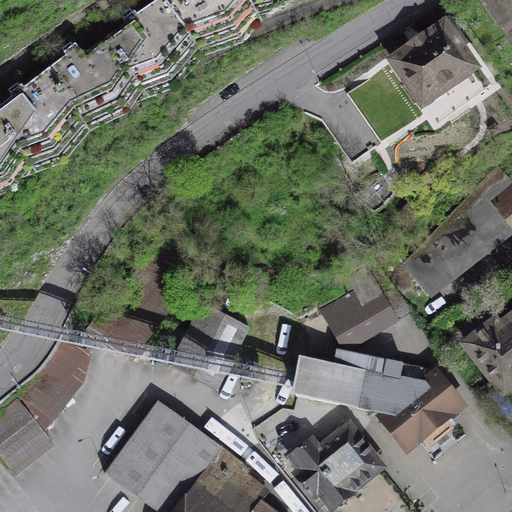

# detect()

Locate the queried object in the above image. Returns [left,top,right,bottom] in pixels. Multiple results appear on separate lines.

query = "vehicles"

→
[204,416,278,482]
[109,496,128,512]
[218,80,241,99]
[424,296,446,314]
[277,324,291,354]
[220,374,239,400]
[274,480,316,512]
[277,380,292,405]
[102,425,126,454]
[276,421,299,434]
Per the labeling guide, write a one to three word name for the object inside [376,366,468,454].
house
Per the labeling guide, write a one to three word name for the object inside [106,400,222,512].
building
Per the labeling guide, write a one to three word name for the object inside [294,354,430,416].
building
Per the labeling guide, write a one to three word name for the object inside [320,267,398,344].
house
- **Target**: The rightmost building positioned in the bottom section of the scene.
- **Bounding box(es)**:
[460,310,512,396]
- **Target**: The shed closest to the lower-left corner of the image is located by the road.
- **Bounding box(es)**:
[0,399,53,474]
